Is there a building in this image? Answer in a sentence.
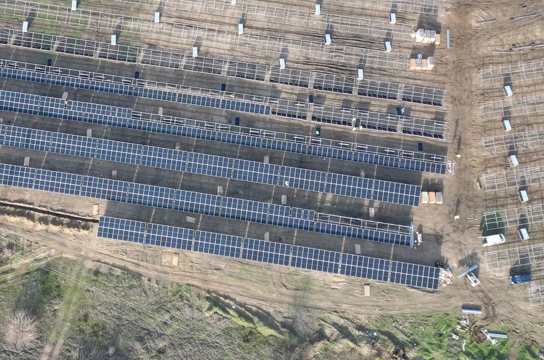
No, the scene contains no building.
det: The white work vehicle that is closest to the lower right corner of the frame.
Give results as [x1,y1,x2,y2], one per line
[463,269,481,288]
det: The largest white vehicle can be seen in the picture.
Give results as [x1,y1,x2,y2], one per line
[478,232,507,245]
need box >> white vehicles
[478,232,507,245]
[463,269,481,288]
